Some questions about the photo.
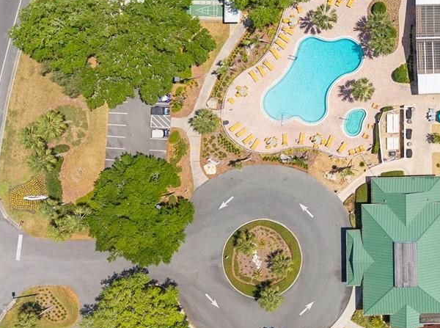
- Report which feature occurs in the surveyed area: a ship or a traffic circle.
traffic circle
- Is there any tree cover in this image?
Yes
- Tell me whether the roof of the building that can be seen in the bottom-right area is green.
Yes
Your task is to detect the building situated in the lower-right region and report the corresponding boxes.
[347,175,440,328]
